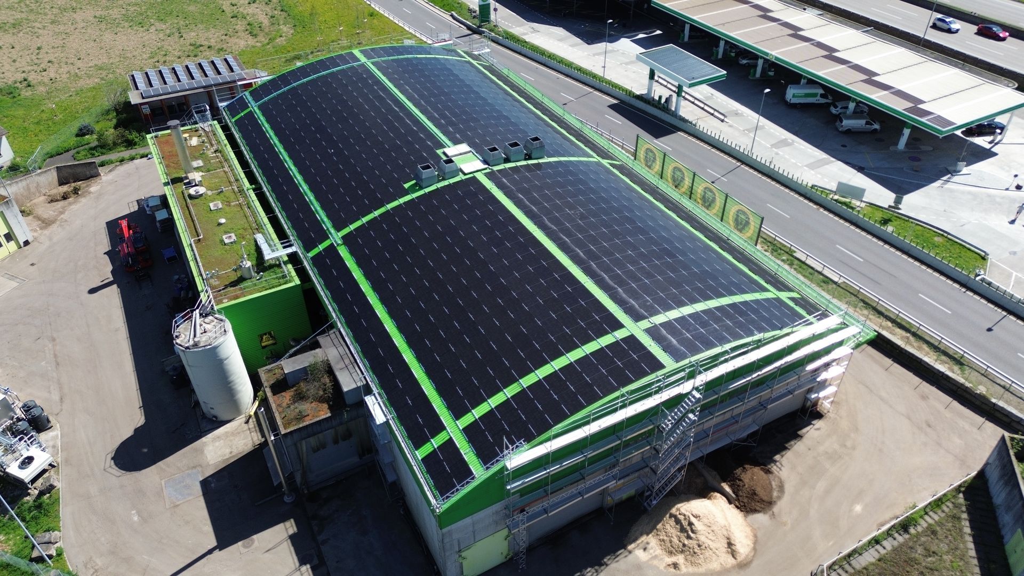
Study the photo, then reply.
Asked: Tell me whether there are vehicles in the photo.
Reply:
Yes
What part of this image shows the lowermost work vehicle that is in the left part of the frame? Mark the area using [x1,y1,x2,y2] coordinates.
[116,215,156,281]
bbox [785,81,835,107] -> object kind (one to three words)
vehicle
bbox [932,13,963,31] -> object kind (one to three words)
car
